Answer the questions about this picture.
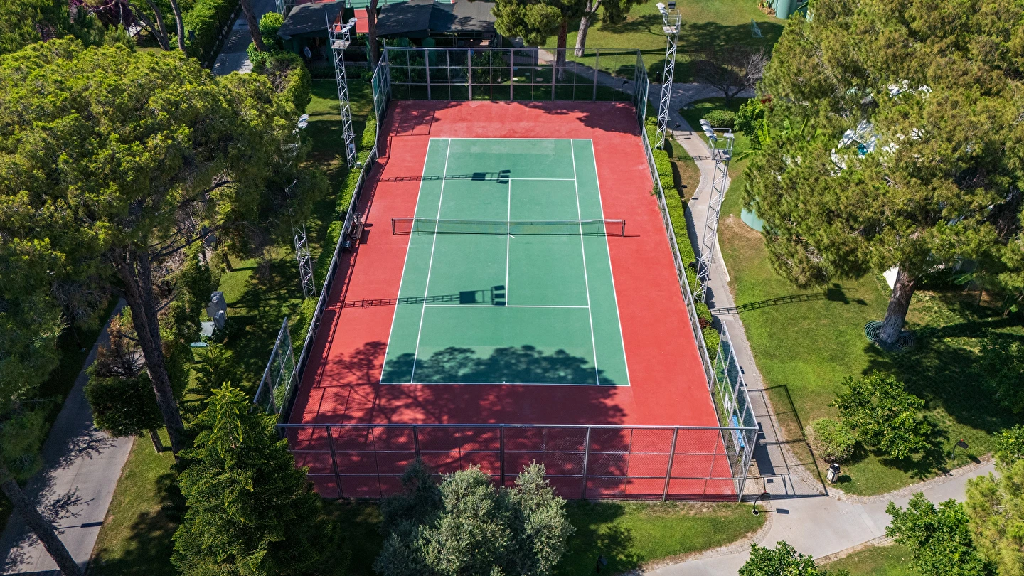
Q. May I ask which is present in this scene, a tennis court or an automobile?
tennis court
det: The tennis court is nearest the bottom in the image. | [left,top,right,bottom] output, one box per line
[278,99,740,503]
